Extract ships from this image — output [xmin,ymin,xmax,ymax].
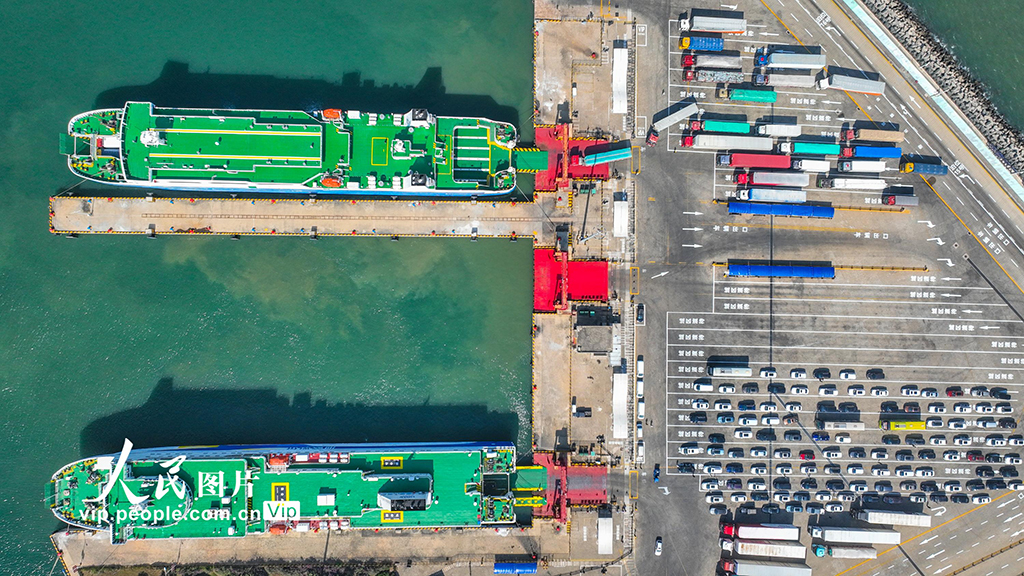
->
[59,102,548,196]
[45,442,547,545]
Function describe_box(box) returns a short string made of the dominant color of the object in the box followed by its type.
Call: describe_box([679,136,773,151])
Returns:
white vehicle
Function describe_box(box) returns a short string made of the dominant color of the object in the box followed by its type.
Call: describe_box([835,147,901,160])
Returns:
blue vehicle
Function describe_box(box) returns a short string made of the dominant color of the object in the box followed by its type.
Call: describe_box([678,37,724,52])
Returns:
blue vehicle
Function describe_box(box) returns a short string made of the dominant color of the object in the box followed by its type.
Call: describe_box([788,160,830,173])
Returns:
white vehicle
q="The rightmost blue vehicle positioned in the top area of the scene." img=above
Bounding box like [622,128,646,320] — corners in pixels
[894,160,948,175]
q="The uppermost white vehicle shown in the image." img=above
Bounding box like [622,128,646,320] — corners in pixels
[677,18,746,33]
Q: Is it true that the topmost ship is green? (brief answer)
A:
Yes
